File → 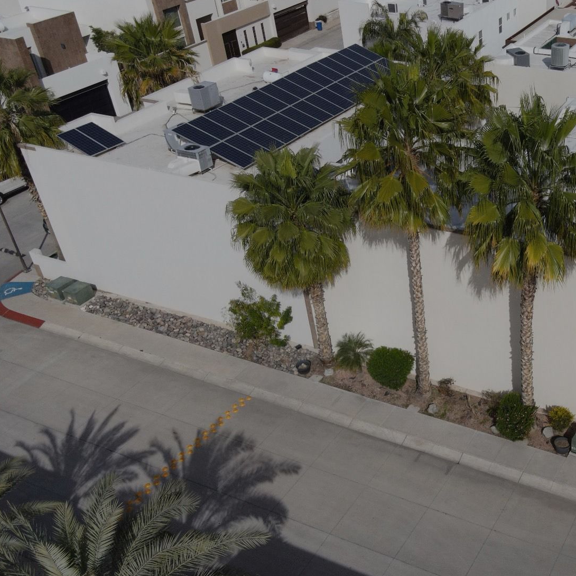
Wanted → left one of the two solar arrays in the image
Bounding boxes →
[58,123,125,158]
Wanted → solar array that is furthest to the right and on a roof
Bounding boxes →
[174,45,388,167]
